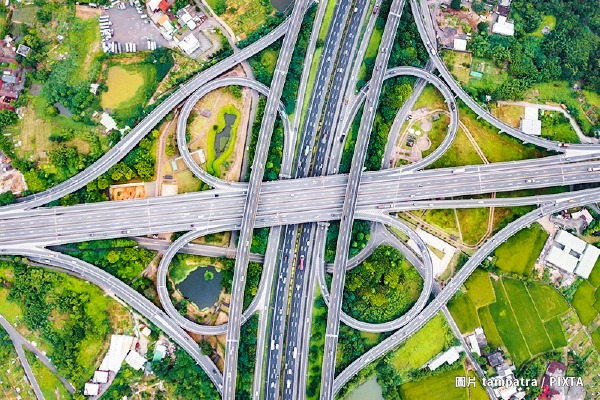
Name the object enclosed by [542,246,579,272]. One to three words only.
building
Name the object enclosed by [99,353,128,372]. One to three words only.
building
